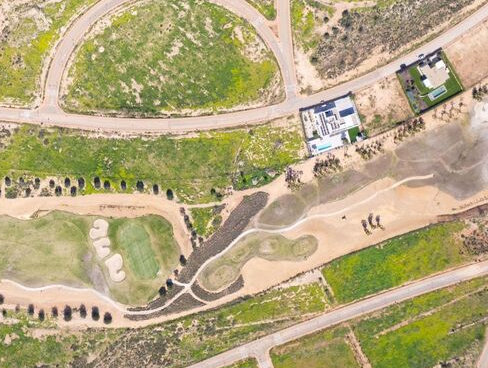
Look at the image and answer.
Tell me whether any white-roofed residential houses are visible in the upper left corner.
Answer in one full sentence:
No, I can find no white-roofed residential house in the upper left corner.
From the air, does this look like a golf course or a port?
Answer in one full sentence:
This image shows a golf course.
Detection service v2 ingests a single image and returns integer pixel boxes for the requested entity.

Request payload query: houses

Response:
[314,103,361,137]
[415,55,450,88]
